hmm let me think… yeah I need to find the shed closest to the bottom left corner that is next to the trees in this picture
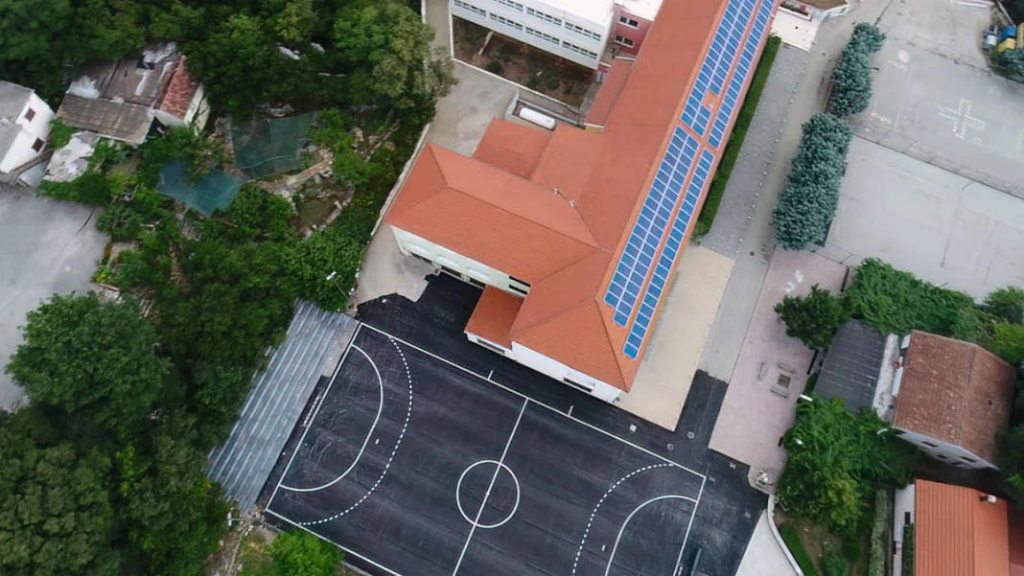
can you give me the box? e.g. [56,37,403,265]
[204,304,358,510]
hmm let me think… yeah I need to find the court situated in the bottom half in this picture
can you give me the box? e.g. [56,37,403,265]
[265,325,709,576]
